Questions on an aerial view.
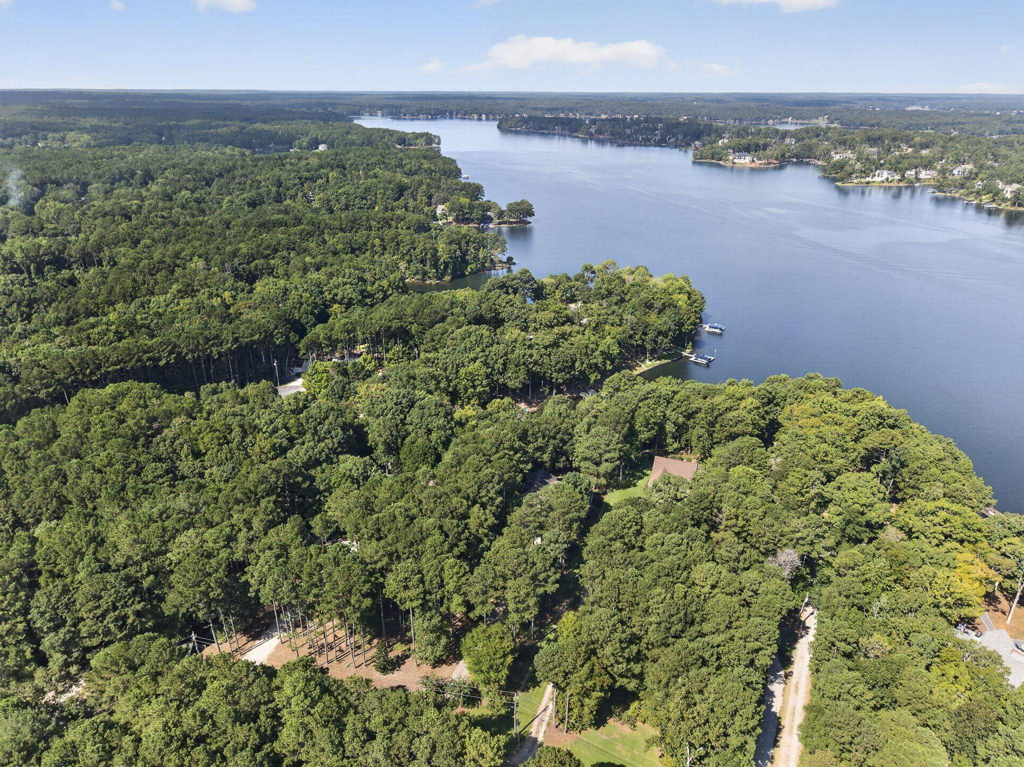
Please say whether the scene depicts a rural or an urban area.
rural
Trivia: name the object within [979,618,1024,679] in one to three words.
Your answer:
house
